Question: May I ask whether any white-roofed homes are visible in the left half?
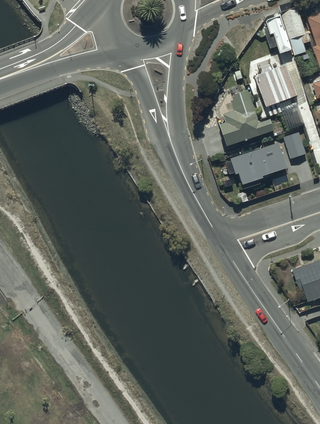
No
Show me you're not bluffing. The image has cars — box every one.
[256,308,268,324]
[176,42,183,56]
[192,173,202,189]
[261,232,277,240]
[220,0,236,9]
[179,5,186,21]
[242,239,256,248]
